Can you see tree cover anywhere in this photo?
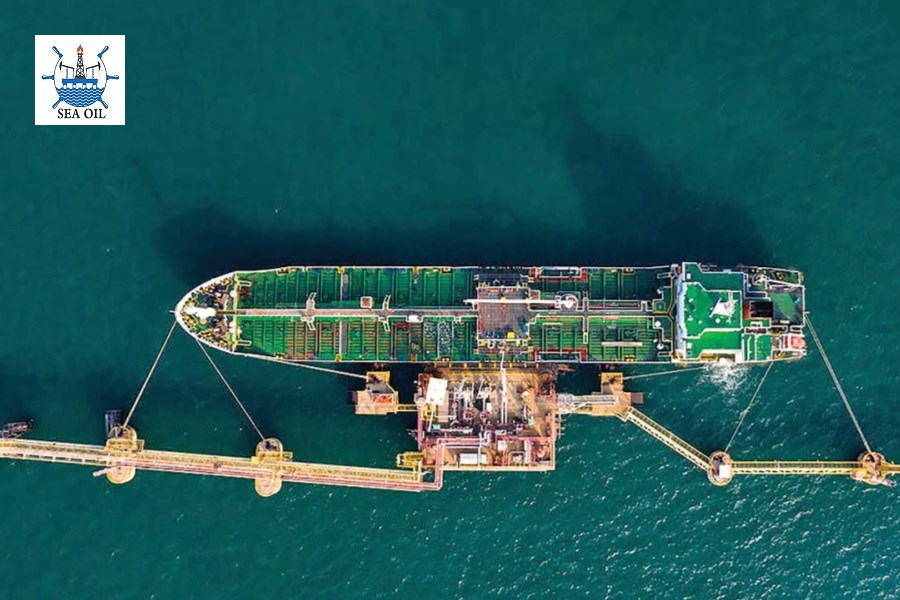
No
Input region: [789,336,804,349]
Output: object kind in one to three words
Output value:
boat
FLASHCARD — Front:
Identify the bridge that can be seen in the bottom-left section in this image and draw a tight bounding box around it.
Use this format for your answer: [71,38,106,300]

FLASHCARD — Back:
[0,438,428,488]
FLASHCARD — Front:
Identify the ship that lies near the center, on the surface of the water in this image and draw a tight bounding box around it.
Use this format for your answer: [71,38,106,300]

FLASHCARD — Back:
[170,262,809,363]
